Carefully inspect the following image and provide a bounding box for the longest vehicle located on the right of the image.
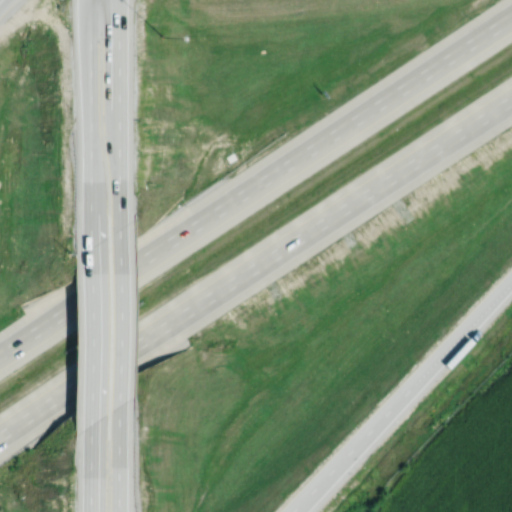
[446,331,478,369]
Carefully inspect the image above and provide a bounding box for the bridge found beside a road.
[68,222,140,433]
